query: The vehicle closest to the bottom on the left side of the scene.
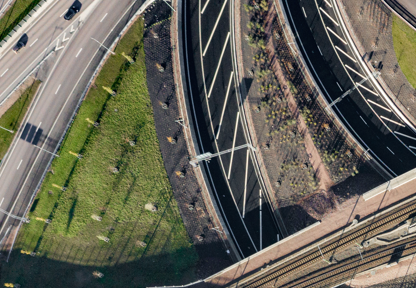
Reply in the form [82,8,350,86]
[10,39,24,53]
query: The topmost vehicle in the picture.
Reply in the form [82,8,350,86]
[62,3,78,19]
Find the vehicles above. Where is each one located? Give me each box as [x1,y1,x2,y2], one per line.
[10,39,24,53]
[62,3,78,19]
